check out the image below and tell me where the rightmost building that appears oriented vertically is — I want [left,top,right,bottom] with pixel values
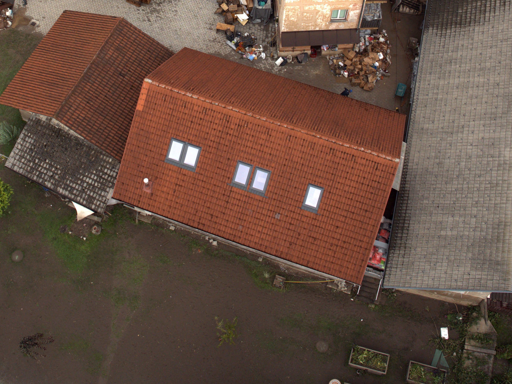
[382,0,512,306]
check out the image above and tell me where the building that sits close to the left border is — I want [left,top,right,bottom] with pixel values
[0,10,176,214]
